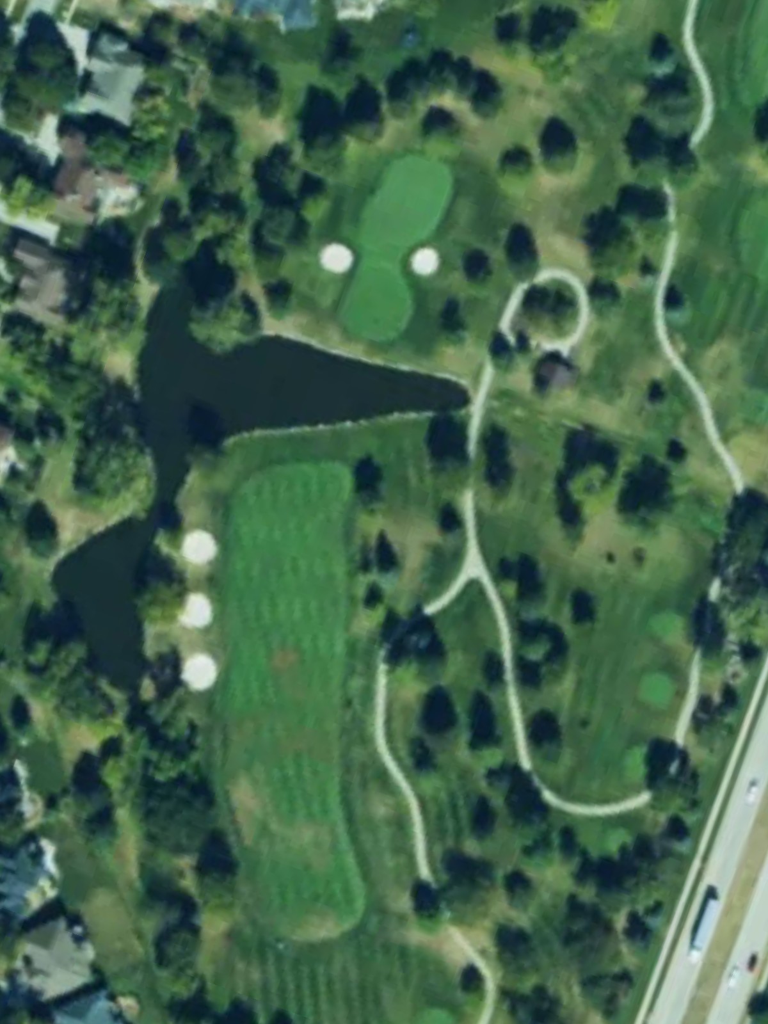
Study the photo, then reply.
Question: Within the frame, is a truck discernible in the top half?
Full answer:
No, no truck appears in the top half.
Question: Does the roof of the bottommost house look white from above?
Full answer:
No, the color of the roof of the bottommost house is blue.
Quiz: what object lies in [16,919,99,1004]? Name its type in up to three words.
house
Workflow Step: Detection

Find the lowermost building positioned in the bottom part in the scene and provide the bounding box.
[46,984,122,1024]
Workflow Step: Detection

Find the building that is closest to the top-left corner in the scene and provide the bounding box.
[75,28,147,122]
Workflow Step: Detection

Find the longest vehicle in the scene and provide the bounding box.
[690,895,720,960]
